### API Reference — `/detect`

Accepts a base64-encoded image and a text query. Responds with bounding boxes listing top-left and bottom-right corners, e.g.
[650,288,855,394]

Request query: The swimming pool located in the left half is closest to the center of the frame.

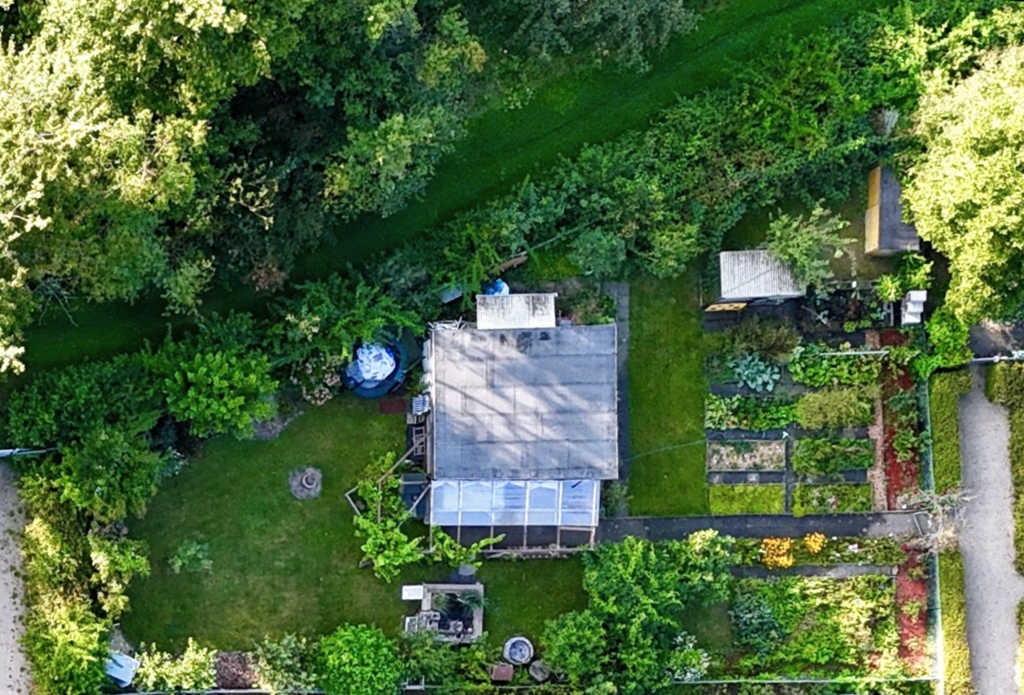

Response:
[343,333,408,396]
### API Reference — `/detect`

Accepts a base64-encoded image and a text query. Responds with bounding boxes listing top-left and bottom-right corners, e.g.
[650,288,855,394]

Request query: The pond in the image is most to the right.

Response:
[421,585,484,642]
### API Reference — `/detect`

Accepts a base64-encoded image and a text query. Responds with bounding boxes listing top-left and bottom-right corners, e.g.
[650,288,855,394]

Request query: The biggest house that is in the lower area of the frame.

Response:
[426,325,618,523]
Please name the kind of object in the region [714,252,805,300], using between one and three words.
shed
